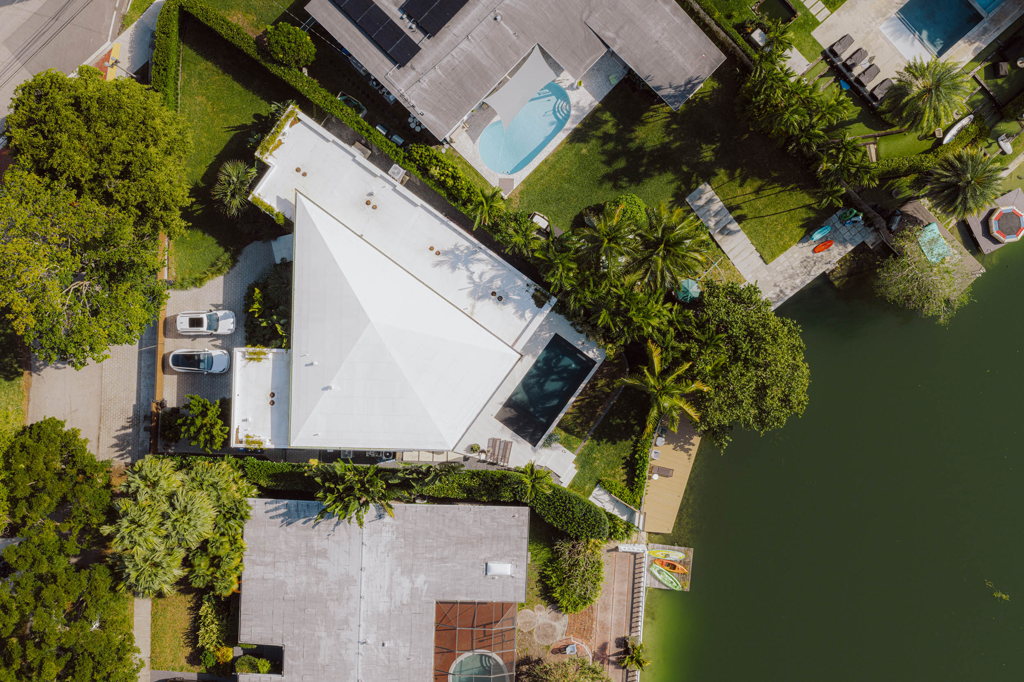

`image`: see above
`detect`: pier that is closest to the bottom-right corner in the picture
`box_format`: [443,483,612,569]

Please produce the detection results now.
[645,543,693,591]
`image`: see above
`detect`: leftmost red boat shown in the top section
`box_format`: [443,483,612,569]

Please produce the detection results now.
[813,240,834,253]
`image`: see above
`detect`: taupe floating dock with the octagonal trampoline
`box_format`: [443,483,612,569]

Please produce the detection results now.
[965,188,1024,255]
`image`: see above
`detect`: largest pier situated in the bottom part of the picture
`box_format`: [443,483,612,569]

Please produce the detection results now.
[645,409,715,533]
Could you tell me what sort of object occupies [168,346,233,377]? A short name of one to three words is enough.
car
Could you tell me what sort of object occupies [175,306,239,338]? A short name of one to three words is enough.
car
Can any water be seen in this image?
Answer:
Yes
